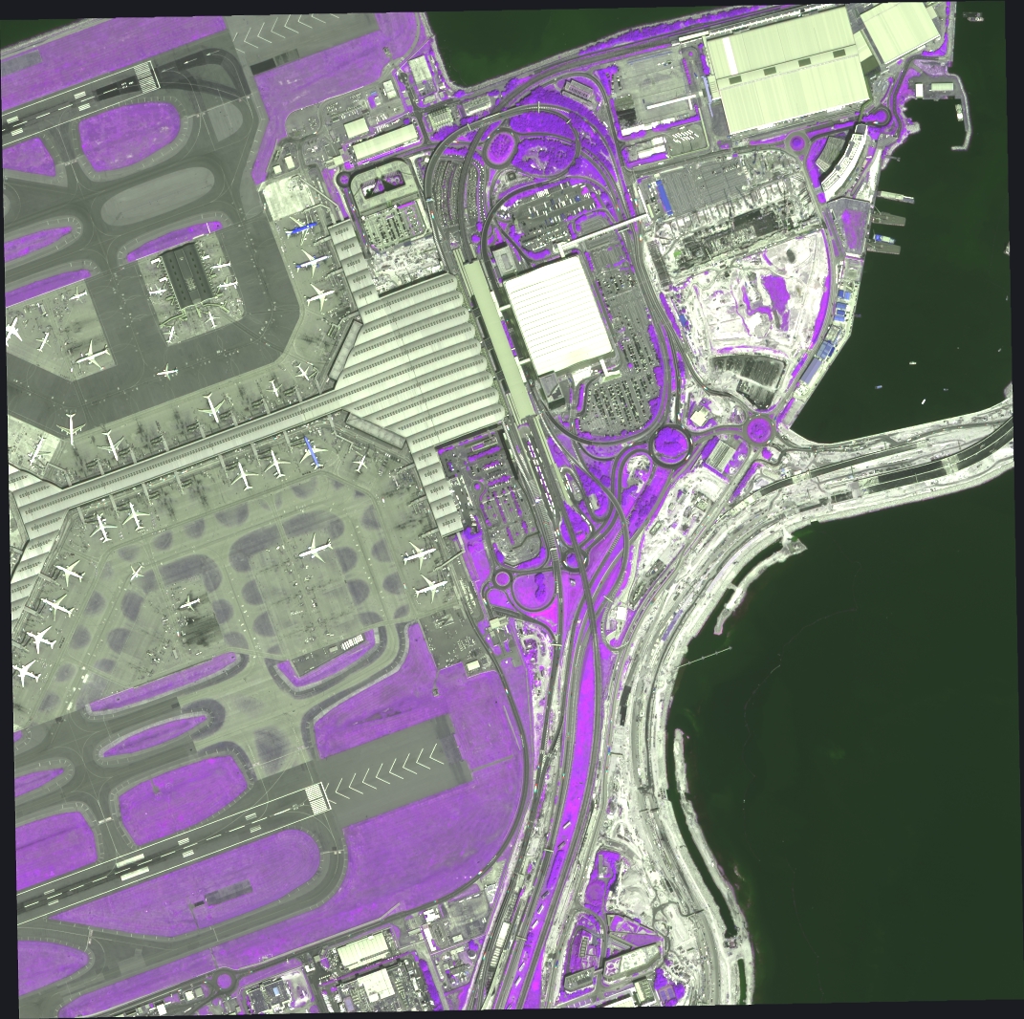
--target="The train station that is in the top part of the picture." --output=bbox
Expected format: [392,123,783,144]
[453,248,536,423]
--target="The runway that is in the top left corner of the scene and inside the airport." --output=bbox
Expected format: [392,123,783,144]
[0,59,161,147]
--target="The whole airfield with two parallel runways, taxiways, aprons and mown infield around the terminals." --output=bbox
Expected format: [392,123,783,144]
[0,0,522,1019]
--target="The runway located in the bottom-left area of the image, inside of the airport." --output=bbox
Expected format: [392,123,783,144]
[0,781,332,933]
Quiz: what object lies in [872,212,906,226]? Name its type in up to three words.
pier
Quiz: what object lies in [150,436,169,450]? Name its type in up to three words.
jet bridge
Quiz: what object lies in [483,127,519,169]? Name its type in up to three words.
roundabout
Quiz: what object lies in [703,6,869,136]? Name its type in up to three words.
building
